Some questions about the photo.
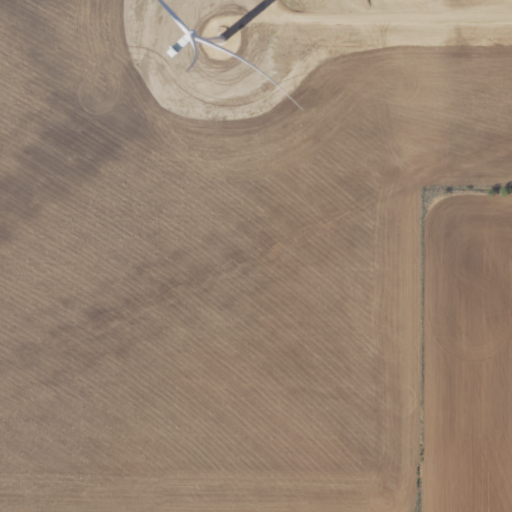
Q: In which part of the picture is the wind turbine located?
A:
top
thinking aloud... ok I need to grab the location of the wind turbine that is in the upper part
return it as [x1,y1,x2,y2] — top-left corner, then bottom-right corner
[159,0,302,110]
